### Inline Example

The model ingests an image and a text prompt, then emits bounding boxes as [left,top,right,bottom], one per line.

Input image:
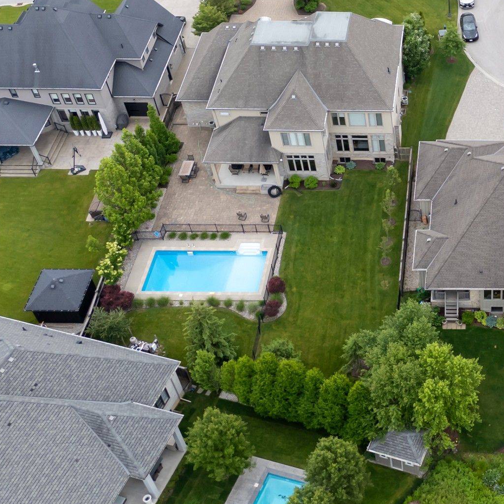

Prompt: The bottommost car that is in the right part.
[460,11,479,38]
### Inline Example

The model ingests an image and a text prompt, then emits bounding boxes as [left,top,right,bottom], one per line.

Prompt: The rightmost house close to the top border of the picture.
[175,12,403,189]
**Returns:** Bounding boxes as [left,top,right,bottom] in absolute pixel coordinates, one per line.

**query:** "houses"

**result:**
[175,12,403,189]
[412,139,504,315]
[0,316,186,504]
[0,0,188,134]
